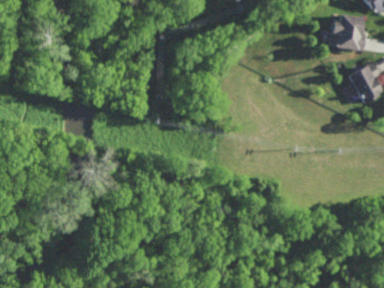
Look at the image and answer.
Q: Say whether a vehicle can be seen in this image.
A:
No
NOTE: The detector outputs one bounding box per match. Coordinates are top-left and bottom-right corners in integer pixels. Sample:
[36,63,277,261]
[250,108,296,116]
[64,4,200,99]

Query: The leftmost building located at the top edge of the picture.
[334,13,368,52]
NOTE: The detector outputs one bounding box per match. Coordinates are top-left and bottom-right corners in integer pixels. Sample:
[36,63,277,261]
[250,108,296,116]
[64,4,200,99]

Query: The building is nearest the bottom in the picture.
[350,68,384,106]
